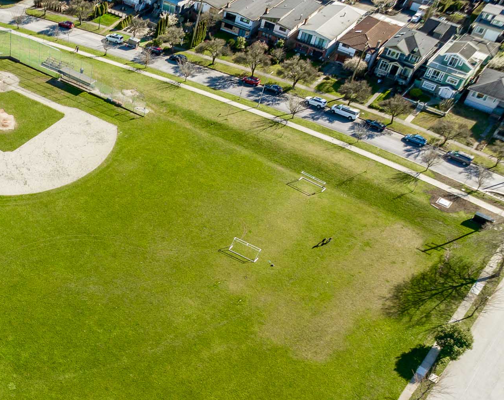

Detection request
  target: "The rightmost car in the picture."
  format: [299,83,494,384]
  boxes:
[445,152,473,166]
